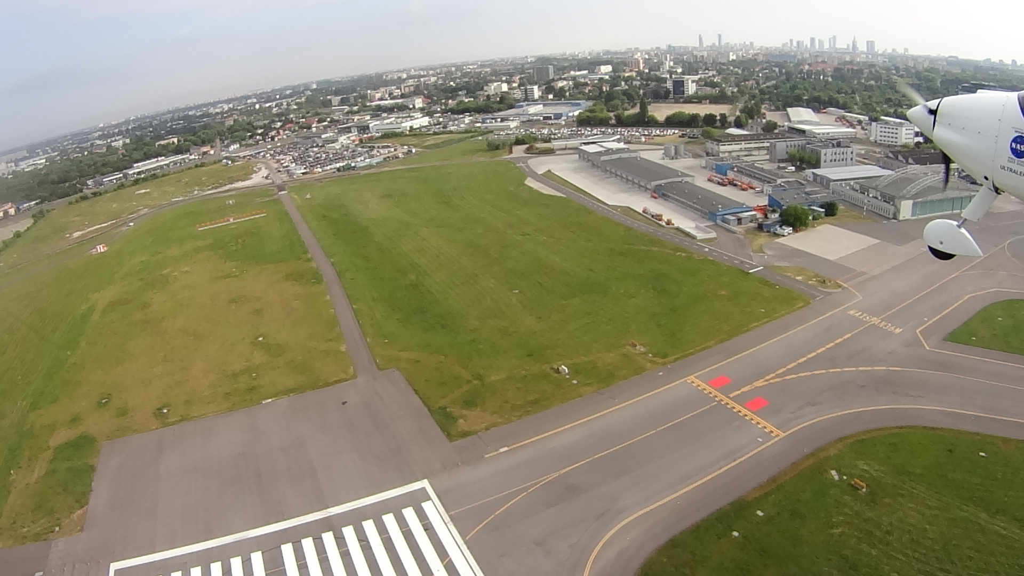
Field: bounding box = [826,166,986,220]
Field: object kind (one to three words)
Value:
hangar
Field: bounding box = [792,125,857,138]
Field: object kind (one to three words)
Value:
building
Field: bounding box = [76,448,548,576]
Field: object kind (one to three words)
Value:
runway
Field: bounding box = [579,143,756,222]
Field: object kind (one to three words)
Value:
building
